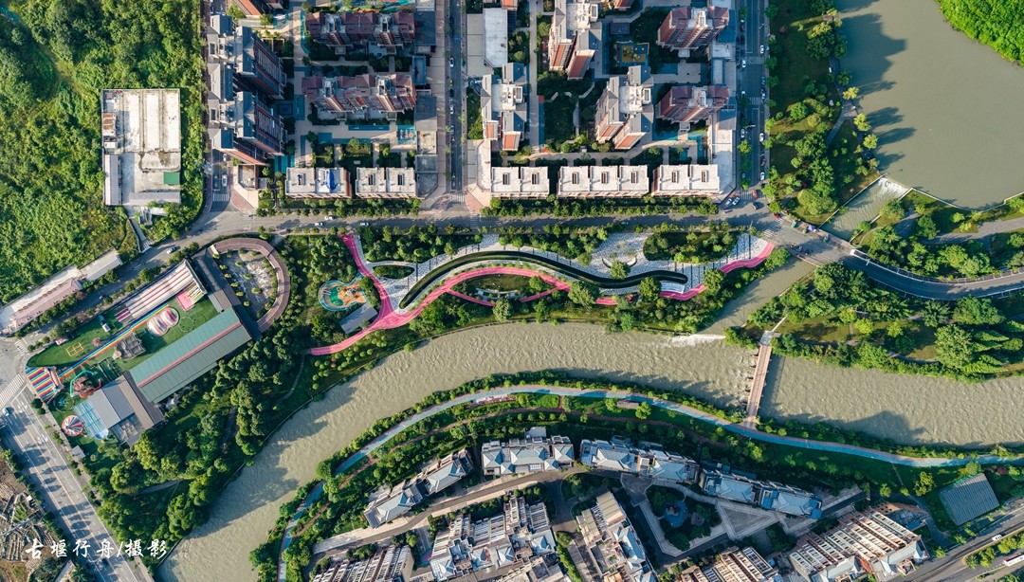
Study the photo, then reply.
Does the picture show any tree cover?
Yes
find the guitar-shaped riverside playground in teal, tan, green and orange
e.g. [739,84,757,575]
[319,272,366,311]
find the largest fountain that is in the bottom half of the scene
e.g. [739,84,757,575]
[53,392,72,412]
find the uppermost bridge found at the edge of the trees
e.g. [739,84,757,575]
[773,211,855,267]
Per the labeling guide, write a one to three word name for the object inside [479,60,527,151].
building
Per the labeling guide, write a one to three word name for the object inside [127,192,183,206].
shed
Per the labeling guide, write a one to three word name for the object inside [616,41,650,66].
playground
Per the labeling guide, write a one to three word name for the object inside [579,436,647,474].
house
